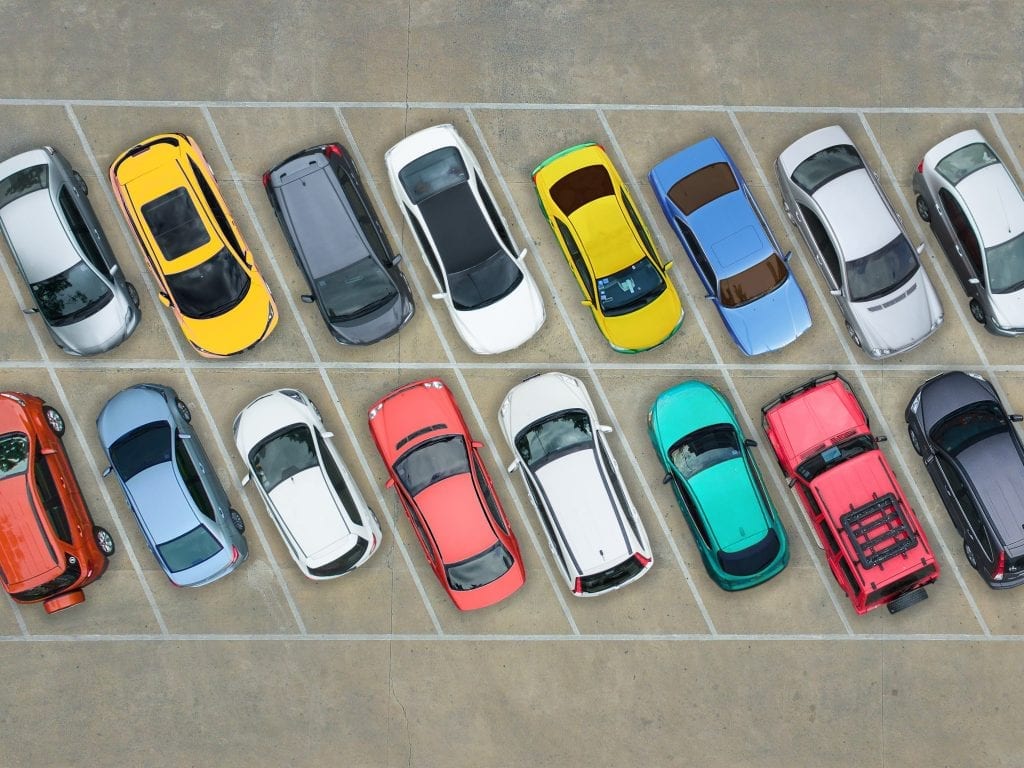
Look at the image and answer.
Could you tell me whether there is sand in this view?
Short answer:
No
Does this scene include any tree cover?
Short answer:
No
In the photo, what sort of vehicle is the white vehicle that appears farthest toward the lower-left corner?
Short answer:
car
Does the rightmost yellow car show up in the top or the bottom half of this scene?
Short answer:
top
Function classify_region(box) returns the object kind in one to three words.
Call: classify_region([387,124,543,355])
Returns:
car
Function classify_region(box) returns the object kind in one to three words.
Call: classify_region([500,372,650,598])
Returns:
car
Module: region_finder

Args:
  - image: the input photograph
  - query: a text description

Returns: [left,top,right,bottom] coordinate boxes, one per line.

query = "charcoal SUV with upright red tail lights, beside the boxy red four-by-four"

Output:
[902,372,1024,588]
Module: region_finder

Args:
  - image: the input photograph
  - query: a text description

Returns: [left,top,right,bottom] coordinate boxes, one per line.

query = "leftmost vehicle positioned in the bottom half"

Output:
[0,395,113,613]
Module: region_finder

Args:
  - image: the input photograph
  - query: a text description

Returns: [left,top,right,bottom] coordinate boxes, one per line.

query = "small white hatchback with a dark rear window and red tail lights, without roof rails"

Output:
[233,387,380,584]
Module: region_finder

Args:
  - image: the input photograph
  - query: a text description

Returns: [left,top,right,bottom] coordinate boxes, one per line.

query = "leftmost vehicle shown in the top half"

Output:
[0,142,143,353]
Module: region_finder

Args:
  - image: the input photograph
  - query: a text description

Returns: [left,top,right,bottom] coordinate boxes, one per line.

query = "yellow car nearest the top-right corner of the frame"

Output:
[532,146,678,356]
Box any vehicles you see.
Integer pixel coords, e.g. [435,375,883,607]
[773,127,946,360]
[0,395,113,613]
[112,130,277,357]
[762,373,938,613]
[233,387,380,584]
[369,380,526,612]
[532,146,678,356]
[94,383,247,591]
[649,380,787,593]
[0,142,143,353]
[646,141,809,357]
[387,124,543,355]
[902,372,1024,588]
[500,372,650,598]
[911,131,1024,339]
